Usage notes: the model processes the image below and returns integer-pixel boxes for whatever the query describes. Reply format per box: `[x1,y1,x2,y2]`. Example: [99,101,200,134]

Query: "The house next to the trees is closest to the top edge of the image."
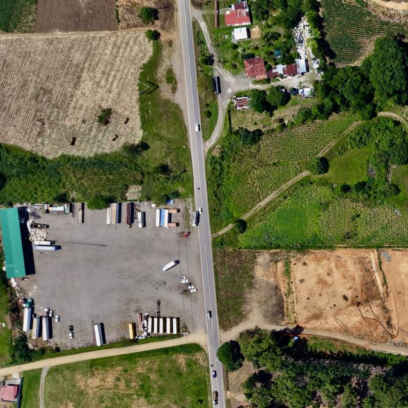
[225,1,252,26]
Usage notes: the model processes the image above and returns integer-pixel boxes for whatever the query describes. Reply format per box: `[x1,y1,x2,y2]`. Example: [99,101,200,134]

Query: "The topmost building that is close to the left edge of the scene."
[0,207,30,279]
